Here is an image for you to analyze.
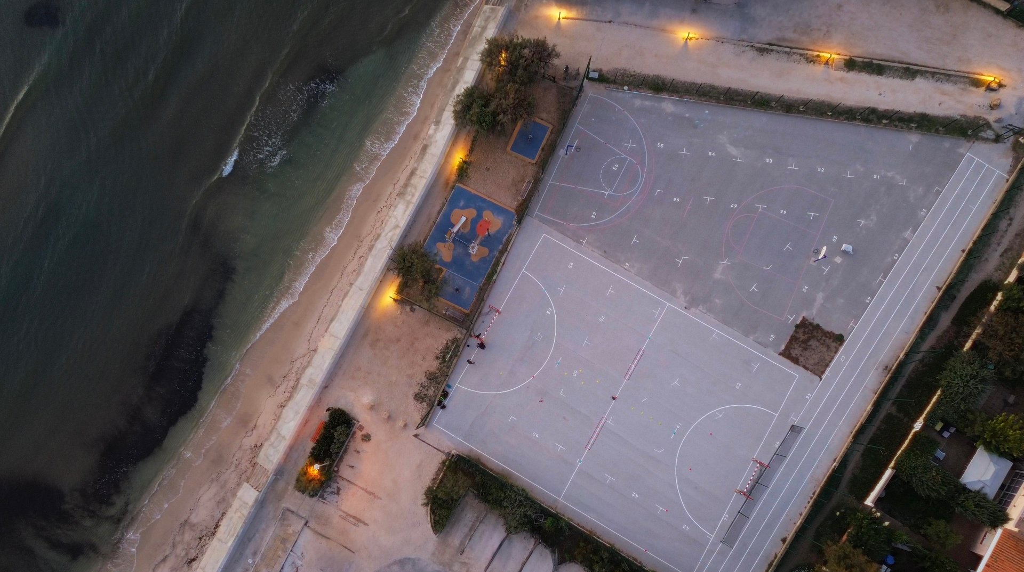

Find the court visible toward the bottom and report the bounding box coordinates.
[416,215,821,572]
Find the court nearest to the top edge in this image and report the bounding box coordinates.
[527,85,967,379]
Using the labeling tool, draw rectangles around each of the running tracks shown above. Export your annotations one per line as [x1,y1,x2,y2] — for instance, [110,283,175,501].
[704,142,1021,572]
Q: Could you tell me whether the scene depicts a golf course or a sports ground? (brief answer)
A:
sports ground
